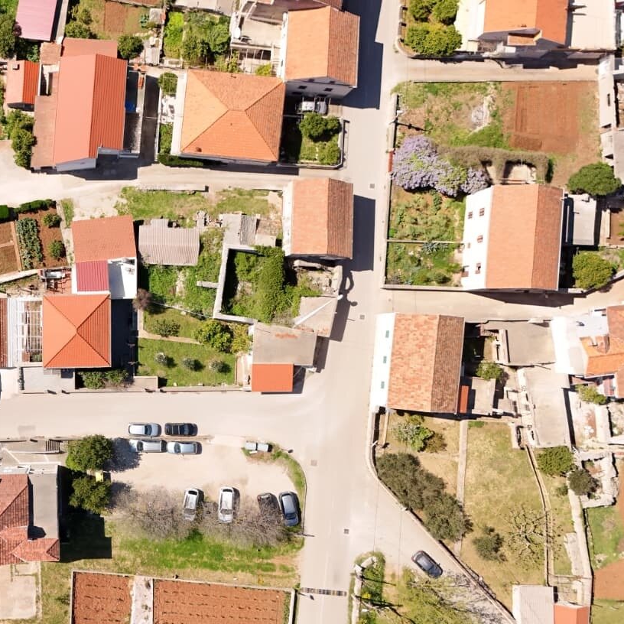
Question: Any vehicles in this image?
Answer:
Yes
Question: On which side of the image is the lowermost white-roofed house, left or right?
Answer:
right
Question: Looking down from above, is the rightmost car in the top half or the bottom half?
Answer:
bottom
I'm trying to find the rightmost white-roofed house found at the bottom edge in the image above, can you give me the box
[504,579,555,624]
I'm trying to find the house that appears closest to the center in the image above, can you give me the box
[289,296,337,337]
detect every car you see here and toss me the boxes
[128,422,160,439]
[166,440,200,455]
[218,487,234,524]
[182,488,201,521]
[410,549,443,580]
[277,490,299,526]
[129,439,165,454]
[258,489,279,524]
[163,422,196,439]
[299,98,330,115]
